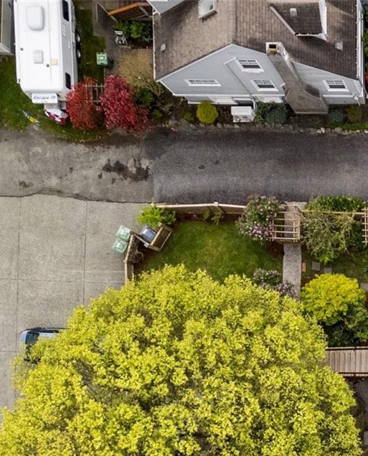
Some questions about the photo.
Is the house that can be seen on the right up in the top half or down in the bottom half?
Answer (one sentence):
It is in the top half that the house that can be seen on the right appears.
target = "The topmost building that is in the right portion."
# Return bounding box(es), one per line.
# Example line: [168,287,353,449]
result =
[142,0,368,123]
